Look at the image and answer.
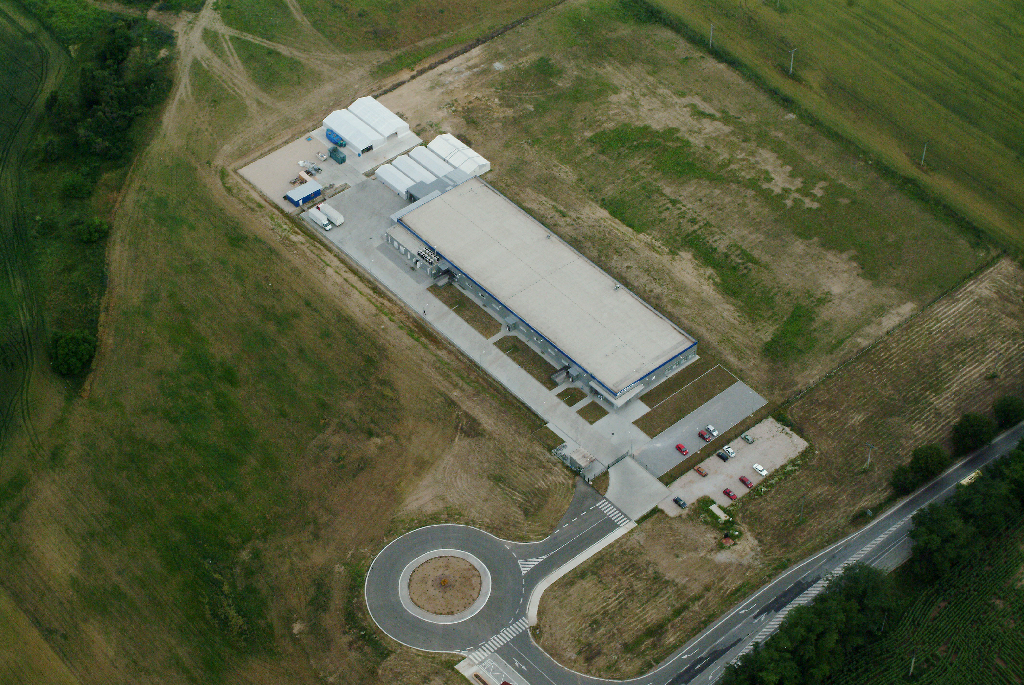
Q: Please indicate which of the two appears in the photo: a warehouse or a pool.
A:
warehouse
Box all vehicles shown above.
[308,204,331,228]
[740,434,754,445]
[316,200,344,226]
[716,452,729,463]
[738,476,753,488]
[722,489,737,500]
[706,424,718,435]
[672,497,687,509]
[959,466,988,492]
[693,467,707,477]
[675,444,688,455]
[752,464,768,476]
[722,447,737,458]
[696,429,711,442]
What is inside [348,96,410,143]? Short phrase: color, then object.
white tent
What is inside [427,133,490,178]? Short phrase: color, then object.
white tent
